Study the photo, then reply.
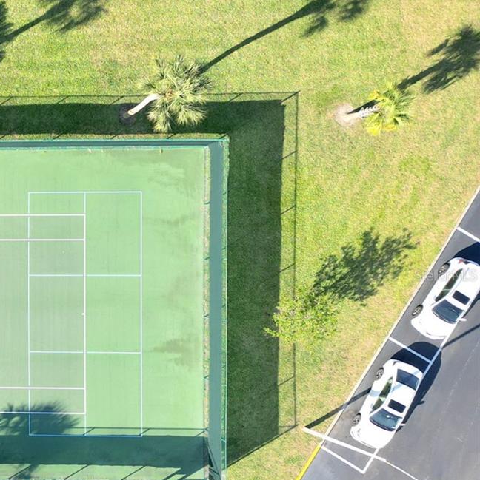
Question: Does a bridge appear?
No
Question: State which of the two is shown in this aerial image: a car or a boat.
car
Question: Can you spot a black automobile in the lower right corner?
No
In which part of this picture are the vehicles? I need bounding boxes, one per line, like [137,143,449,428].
[355,359,423,448]
[413,253,480,340]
